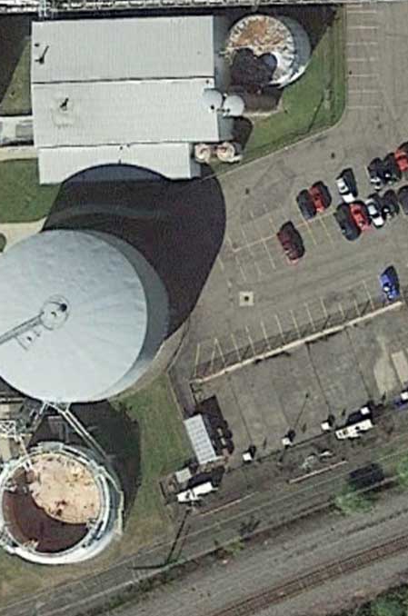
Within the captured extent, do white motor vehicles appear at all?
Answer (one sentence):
Yes, the picture does show a white motor vehicle.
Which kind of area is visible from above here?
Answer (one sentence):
What you see here is an industrial area.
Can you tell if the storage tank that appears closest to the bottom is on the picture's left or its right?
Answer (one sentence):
It is on the left.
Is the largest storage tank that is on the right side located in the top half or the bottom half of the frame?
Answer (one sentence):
The largest storage tank that is on the right side is in the top half of the image.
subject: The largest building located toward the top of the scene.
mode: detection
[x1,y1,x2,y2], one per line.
[33,14,230,148]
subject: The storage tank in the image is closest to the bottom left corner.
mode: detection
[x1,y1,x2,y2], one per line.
[0,441,124,564]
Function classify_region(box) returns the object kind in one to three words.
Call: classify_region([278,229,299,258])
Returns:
car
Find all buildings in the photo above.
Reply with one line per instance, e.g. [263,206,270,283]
[184,415,223,467]
[33,14,230,148]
